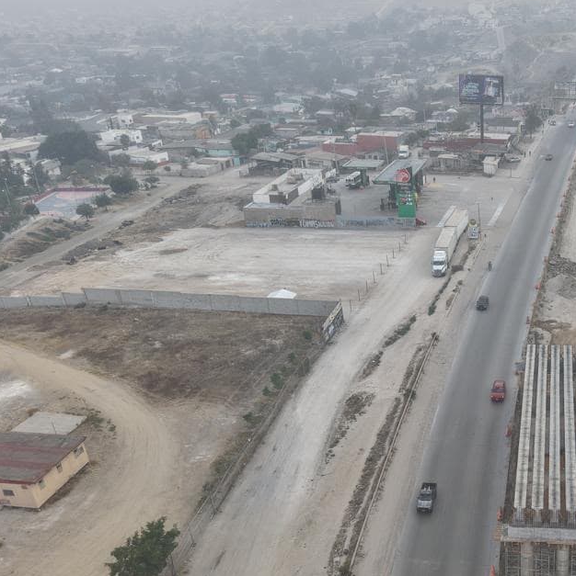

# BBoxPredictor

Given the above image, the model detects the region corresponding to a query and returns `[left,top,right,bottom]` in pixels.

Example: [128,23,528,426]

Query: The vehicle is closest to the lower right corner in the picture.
[413,474,438,510]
